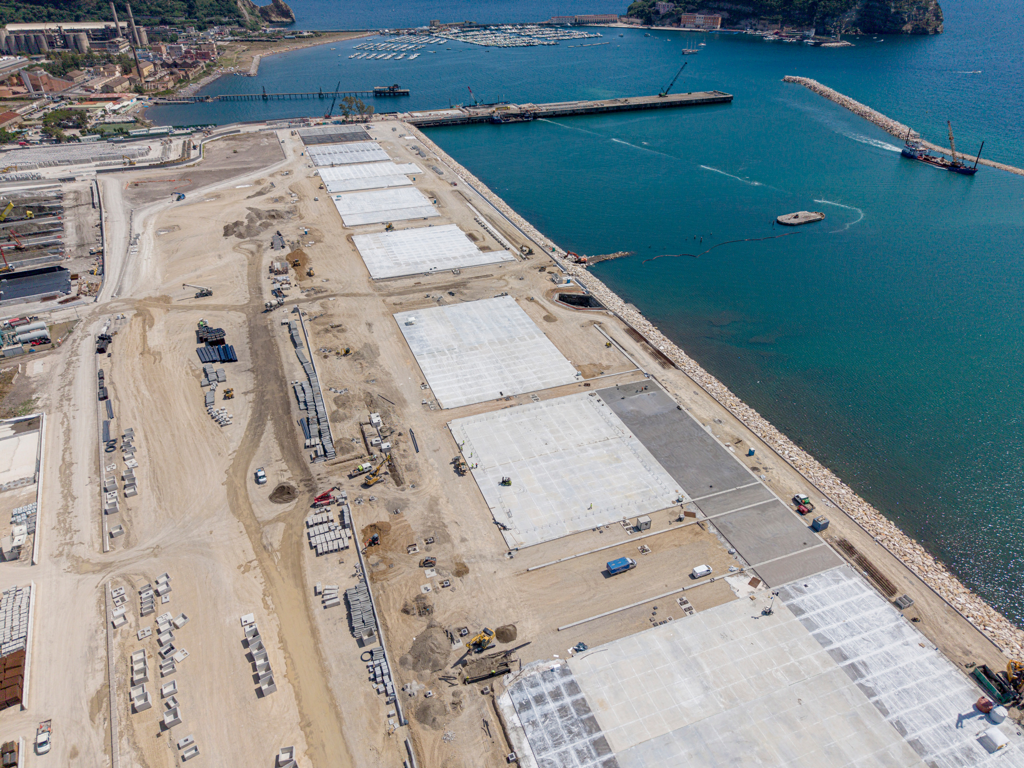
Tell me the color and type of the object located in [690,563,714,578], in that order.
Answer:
white vehicle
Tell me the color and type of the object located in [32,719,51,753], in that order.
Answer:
white vehicle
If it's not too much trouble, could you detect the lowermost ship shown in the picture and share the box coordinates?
[775,211,829,225]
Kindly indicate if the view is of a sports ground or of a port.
port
